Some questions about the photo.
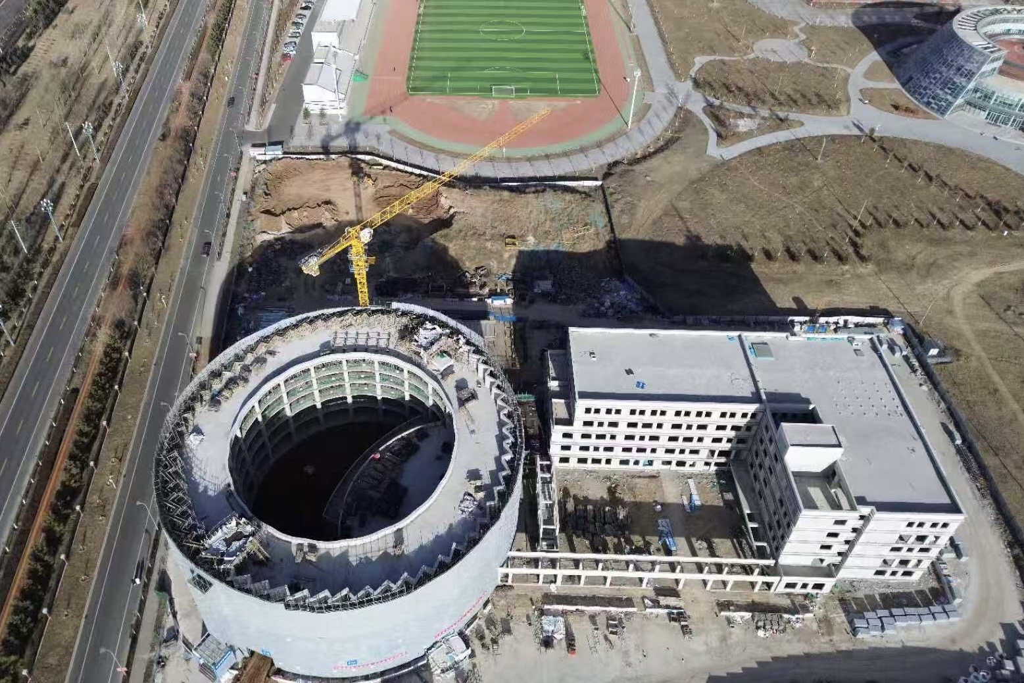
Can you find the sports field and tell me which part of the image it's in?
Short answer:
top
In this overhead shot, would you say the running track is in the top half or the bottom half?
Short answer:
top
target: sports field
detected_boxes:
[403,0,604,97]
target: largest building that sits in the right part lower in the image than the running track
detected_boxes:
[546,327,967,593]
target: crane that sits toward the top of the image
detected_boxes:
[290,105,553,305]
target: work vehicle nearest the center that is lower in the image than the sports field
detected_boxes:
[502,233,521,245]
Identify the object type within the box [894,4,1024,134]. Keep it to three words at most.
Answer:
building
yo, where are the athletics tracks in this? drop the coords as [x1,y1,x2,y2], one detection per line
[350,0,648,157]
